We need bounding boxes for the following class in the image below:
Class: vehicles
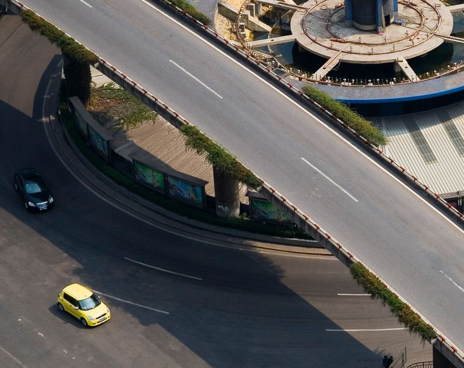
[12,167,54,214]
[55,280,108,327]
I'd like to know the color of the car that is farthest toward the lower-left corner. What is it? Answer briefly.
yellow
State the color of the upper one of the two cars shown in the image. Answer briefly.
black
